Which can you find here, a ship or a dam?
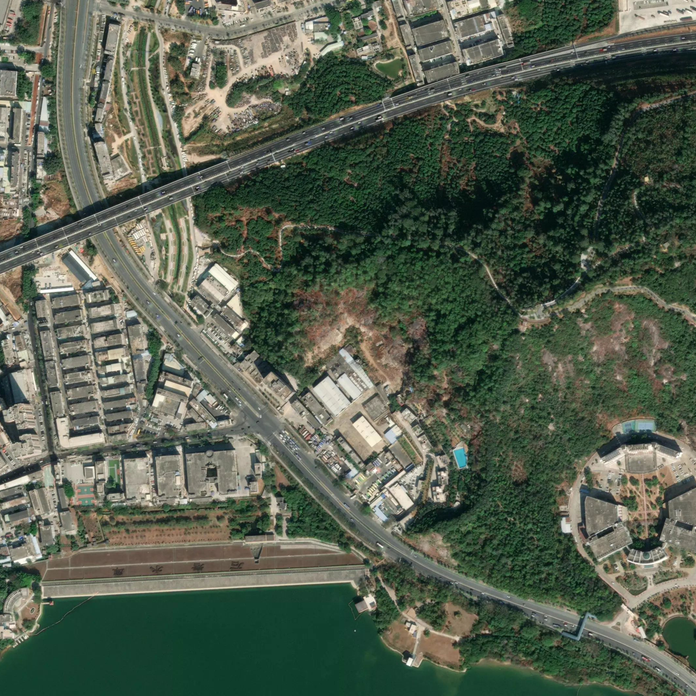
dam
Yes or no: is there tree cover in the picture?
Yes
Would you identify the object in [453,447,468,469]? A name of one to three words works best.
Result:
swimming pool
